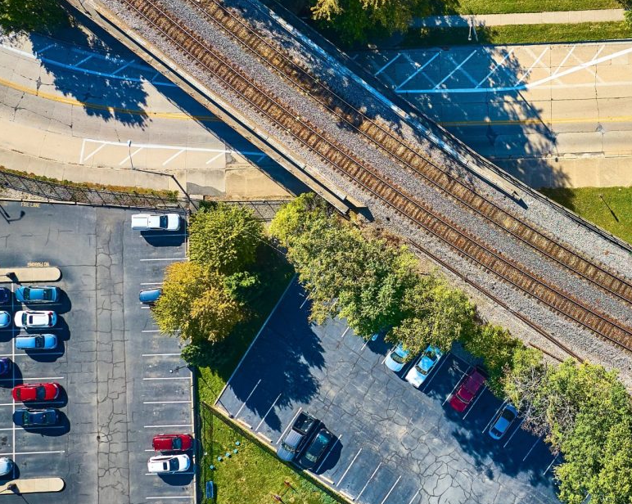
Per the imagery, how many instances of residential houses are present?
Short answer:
0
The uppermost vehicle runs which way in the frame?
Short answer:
horizontally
